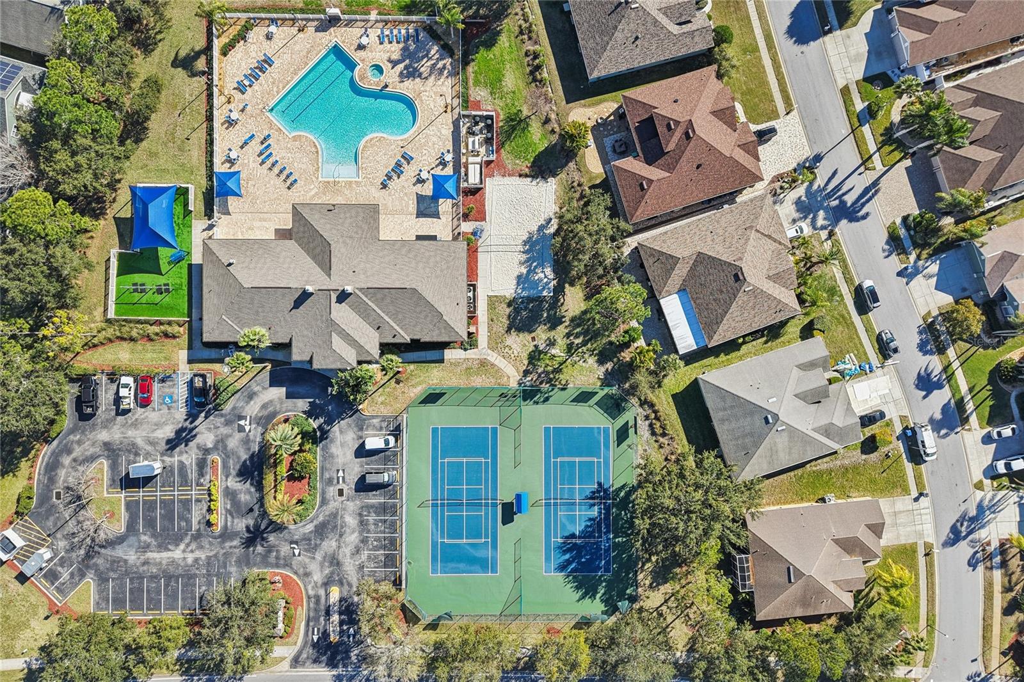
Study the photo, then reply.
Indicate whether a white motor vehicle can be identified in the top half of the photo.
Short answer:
Yes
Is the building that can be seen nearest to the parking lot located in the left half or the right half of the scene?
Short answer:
left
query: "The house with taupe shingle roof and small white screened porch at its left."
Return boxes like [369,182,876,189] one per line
[737,498,885,620]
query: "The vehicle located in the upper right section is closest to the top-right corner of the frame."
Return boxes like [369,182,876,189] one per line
[753,124,780,142]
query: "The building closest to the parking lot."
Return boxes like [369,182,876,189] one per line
[202,204,467,368]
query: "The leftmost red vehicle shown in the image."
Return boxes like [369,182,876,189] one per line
[138,376,155,405]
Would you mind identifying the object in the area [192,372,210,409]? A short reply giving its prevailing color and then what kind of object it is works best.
black vehicle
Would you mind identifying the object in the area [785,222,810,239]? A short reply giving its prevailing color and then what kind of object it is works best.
white car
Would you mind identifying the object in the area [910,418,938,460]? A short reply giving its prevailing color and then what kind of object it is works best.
white vehicle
